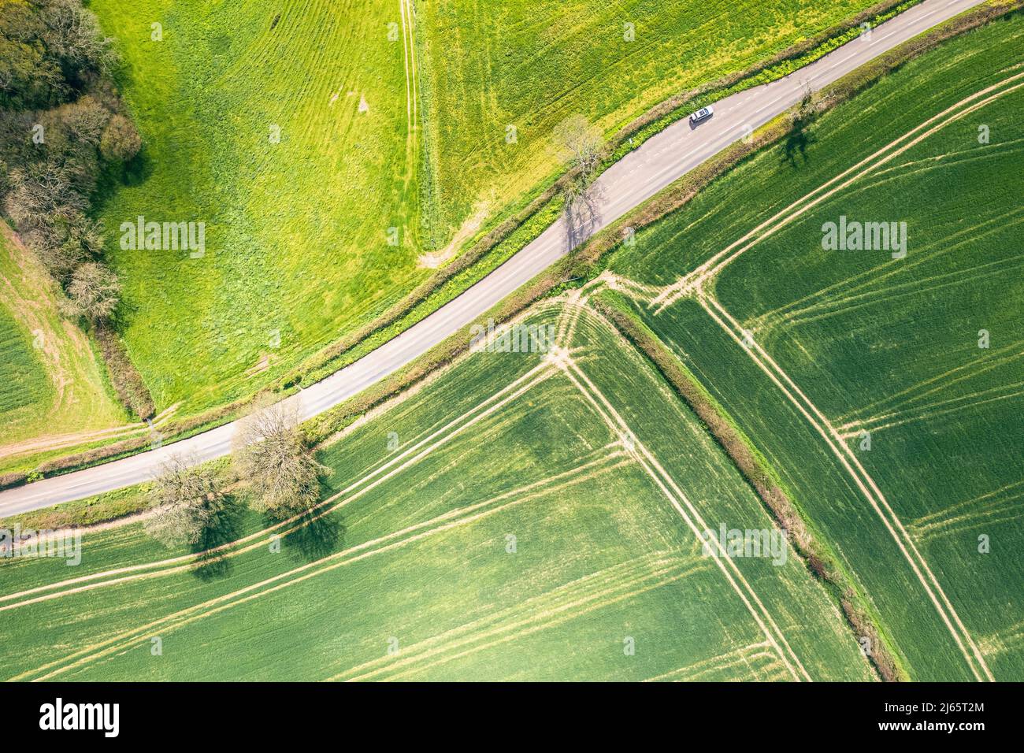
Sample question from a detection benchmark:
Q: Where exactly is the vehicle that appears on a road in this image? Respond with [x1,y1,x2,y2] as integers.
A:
[690,107,714,125]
